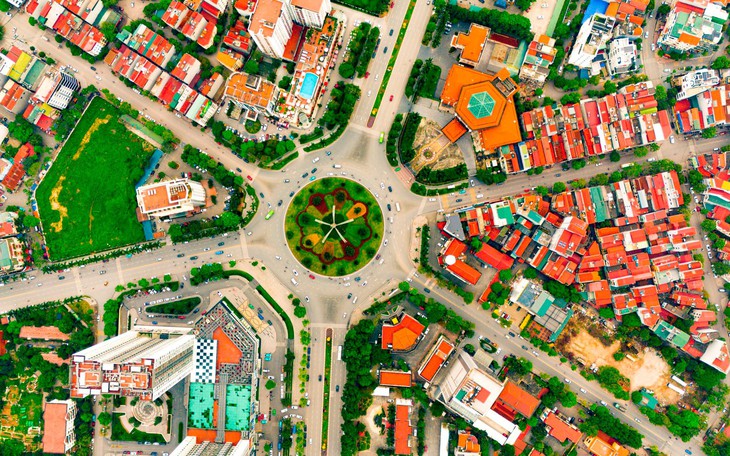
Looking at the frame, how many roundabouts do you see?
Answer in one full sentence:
I count 1 roundabout.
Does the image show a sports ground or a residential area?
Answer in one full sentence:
The picture captures a residential area.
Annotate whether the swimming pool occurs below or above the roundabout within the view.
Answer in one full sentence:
Within the scene, the swimming pool can be found above the roundabout.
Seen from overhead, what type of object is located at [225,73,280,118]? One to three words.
building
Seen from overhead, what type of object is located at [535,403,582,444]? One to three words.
house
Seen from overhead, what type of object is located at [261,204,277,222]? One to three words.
vehicle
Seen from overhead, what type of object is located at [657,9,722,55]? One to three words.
building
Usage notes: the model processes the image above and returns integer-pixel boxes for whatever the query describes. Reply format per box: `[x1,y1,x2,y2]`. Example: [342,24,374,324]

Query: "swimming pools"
[299,72,321,100]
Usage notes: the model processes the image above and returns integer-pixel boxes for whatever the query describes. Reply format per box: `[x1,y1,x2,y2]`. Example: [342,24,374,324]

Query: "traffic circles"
[284,177,384,277]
